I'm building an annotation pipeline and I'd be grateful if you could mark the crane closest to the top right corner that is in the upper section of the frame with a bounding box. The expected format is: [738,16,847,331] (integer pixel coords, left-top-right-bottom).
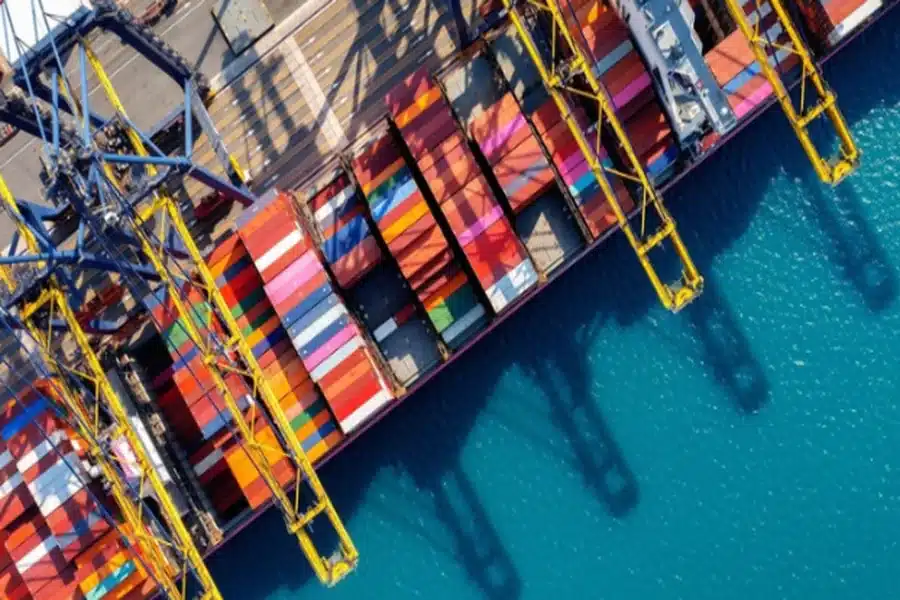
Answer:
[733,0,873,192]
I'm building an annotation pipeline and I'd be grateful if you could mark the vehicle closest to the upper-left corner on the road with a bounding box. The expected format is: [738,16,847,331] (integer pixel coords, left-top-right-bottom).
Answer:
[134,0,169,25]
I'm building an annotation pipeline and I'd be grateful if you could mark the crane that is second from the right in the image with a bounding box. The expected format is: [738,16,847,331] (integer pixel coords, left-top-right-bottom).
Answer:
[433,0,712,317]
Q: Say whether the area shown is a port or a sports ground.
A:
port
